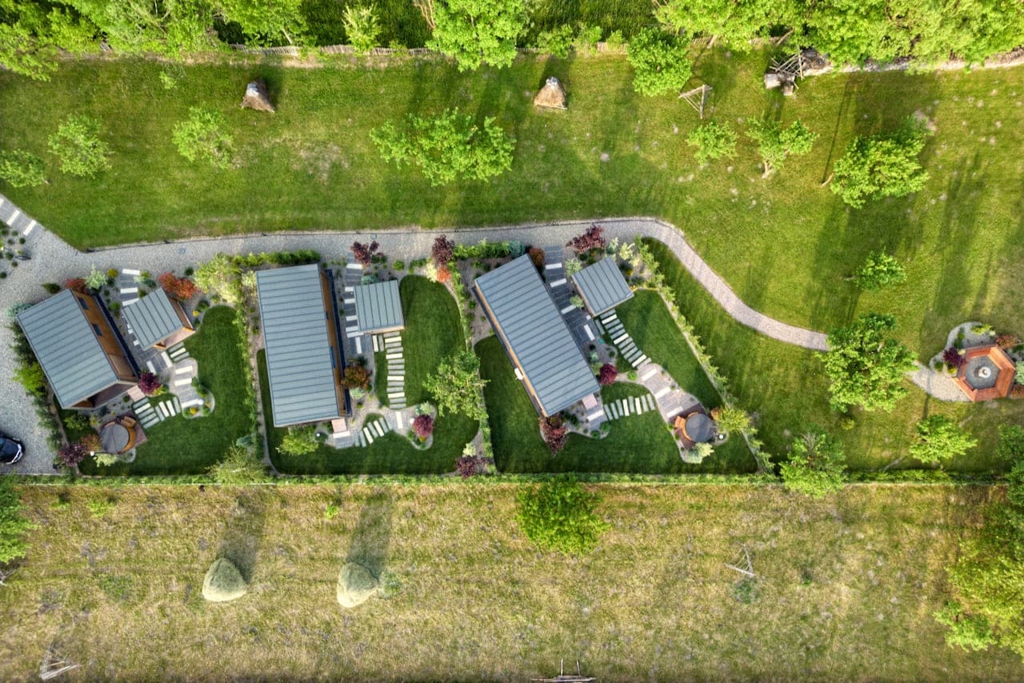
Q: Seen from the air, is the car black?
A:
Yes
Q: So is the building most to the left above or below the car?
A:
above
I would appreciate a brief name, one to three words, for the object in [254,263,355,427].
building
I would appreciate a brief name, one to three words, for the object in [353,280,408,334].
shed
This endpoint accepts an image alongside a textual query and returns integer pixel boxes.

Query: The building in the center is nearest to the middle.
[473,253,600,417]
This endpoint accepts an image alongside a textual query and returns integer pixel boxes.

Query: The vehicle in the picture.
[0,433,25,466]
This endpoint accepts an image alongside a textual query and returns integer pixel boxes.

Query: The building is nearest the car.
[16,286,146,409]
